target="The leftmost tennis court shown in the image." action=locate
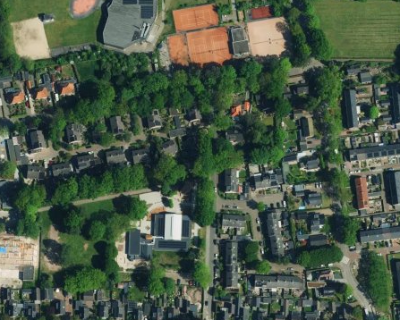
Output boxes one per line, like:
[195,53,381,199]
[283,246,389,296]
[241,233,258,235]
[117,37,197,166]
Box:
[168,32,188,66]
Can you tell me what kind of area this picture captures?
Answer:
residential area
